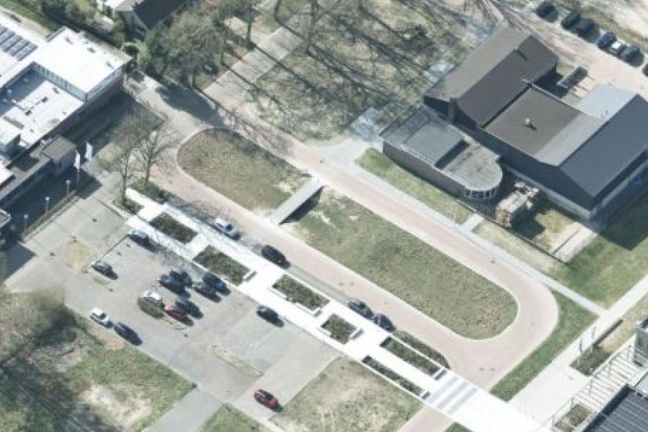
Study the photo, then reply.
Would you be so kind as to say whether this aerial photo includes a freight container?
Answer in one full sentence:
No, there is no freight container in the image.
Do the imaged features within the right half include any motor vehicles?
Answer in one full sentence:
Yes, I can see a motor vehicle within the right half.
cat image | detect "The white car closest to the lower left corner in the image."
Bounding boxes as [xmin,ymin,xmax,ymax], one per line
[85,305,112,327]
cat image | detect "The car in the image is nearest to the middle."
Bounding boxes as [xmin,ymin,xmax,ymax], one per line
[259,243,288,266]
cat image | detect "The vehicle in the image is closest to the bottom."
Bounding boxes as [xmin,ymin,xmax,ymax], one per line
[253,388,281,409]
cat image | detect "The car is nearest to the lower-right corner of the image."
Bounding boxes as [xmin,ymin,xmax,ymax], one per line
[368,311,396,332]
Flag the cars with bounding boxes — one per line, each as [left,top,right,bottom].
[125,226,154,247]
[112,321,142,343]
[259,243,288,266]
[85,305,112,327]
[345,296,374,319]
[201,269,230,292]
[559,10,582,31]
[213,217,239,237]
[619,42,642,62]
[156,270,185,292]
[596,30,617,50]
[253,388,281,409]
[255,304,282,325]
[88,256,117,280]
[368,311,396,332]
[536,0,557,20]
[642,64,648,76]
[608,37,628,55]
[574,15,596,36]
[189,278,219,300]
[174,296,203,318]
[167,266,194,286]
[163,299,189,321]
